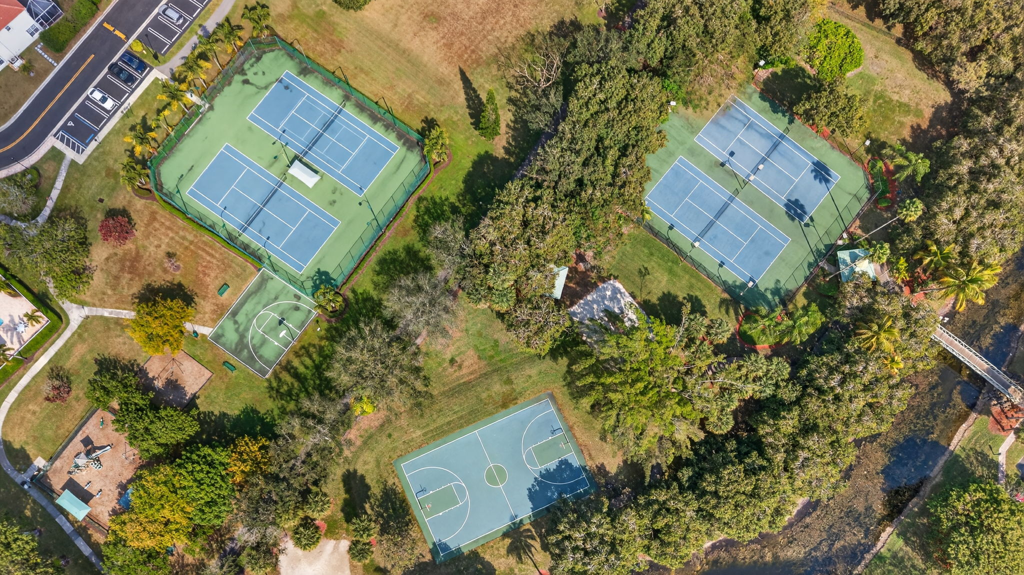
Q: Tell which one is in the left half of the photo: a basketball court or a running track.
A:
basketball court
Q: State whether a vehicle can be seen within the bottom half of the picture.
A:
No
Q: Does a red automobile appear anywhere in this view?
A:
No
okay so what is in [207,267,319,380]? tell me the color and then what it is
green basketball court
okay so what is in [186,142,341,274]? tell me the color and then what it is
blue tennis court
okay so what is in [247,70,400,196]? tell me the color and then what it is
blue tennis court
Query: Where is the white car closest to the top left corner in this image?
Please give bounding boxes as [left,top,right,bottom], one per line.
[86,87,115,109]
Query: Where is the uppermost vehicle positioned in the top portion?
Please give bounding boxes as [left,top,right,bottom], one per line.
[157,3,184,24]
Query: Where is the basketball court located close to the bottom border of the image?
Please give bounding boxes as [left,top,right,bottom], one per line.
[394,393,598,564]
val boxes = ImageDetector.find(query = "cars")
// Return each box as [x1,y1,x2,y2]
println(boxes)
[119,49,147,71]
[86,87,115,109]
[157,3,184,24]
[107,62,136,84]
